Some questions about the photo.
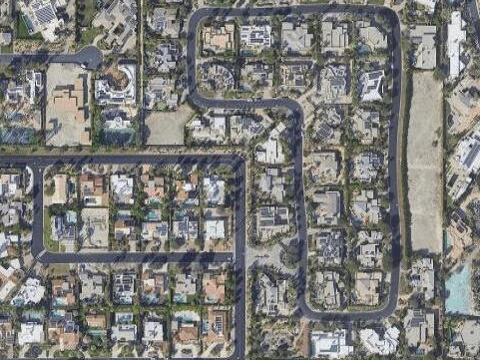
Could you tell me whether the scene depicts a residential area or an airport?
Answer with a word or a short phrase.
residential area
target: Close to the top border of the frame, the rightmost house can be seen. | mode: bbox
[445,10,466,78]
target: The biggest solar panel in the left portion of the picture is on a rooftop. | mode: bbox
[32,3,56,23]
